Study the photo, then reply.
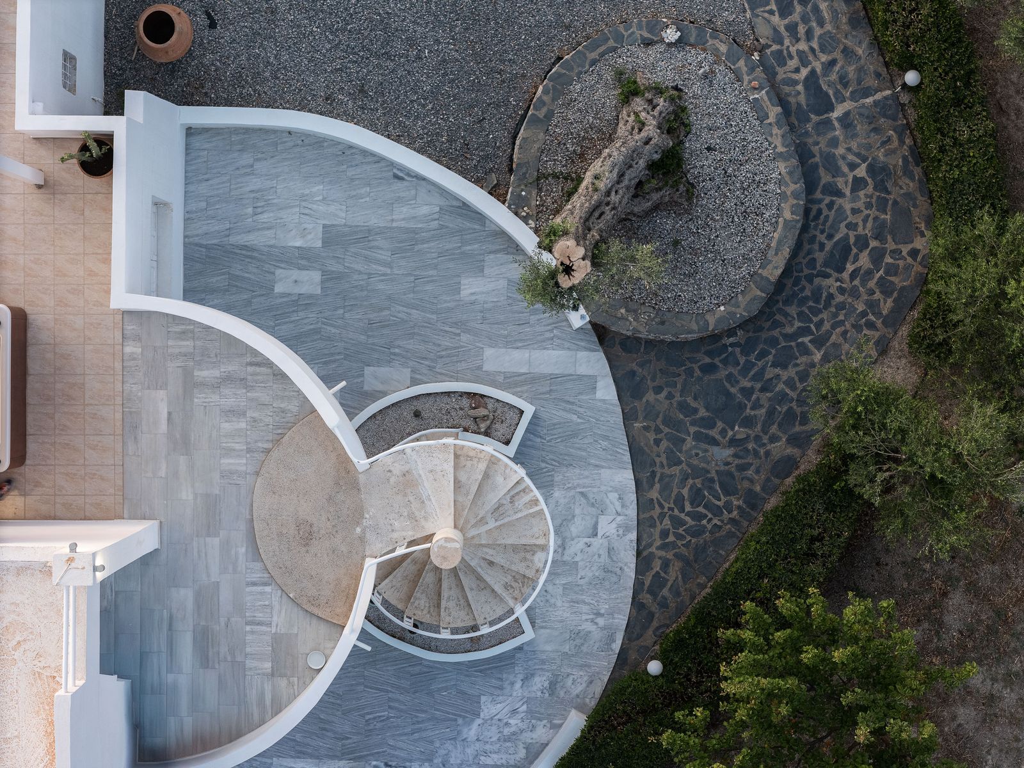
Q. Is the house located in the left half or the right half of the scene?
left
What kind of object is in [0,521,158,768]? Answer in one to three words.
house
